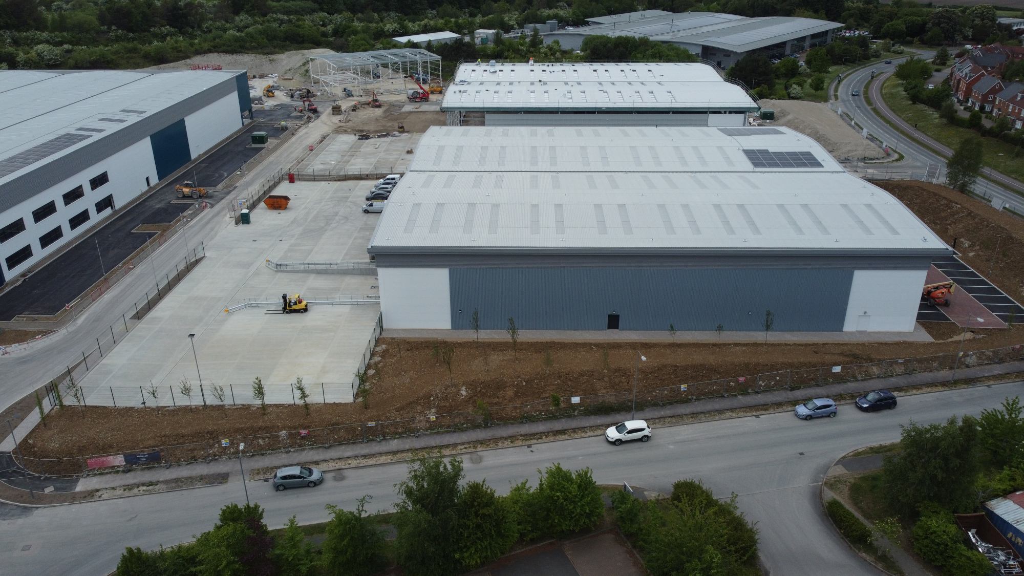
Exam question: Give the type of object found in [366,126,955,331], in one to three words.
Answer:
warehouse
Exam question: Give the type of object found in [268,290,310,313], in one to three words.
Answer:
work vehicle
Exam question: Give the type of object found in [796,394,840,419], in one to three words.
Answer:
car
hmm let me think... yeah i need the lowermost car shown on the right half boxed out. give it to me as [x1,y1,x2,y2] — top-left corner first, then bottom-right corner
[605,418,653,444]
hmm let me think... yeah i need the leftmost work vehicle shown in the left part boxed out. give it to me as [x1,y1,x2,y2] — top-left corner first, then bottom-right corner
[175,181,209,199]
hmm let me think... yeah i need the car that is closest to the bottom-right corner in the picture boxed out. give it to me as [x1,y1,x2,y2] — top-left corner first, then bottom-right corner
[856,387,899,411]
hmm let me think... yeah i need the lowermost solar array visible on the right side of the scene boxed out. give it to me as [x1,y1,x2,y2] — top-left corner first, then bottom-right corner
[738,149,823,167]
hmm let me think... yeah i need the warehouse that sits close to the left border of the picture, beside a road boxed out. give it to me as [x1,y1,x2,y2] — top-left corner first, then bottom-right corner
[0,64,262,286]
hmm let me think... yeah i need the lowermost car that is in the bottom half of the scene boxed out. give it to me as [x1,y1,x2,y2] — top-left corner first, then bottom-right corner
[270,464,321,491]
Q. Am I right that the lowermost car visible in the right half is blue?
No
